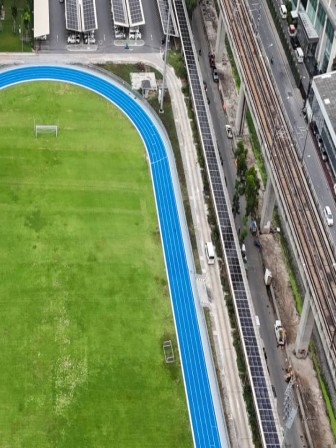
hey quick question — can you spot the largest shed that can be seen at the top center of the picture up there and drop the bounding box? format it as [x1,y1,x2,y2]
[130,70,156,91]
